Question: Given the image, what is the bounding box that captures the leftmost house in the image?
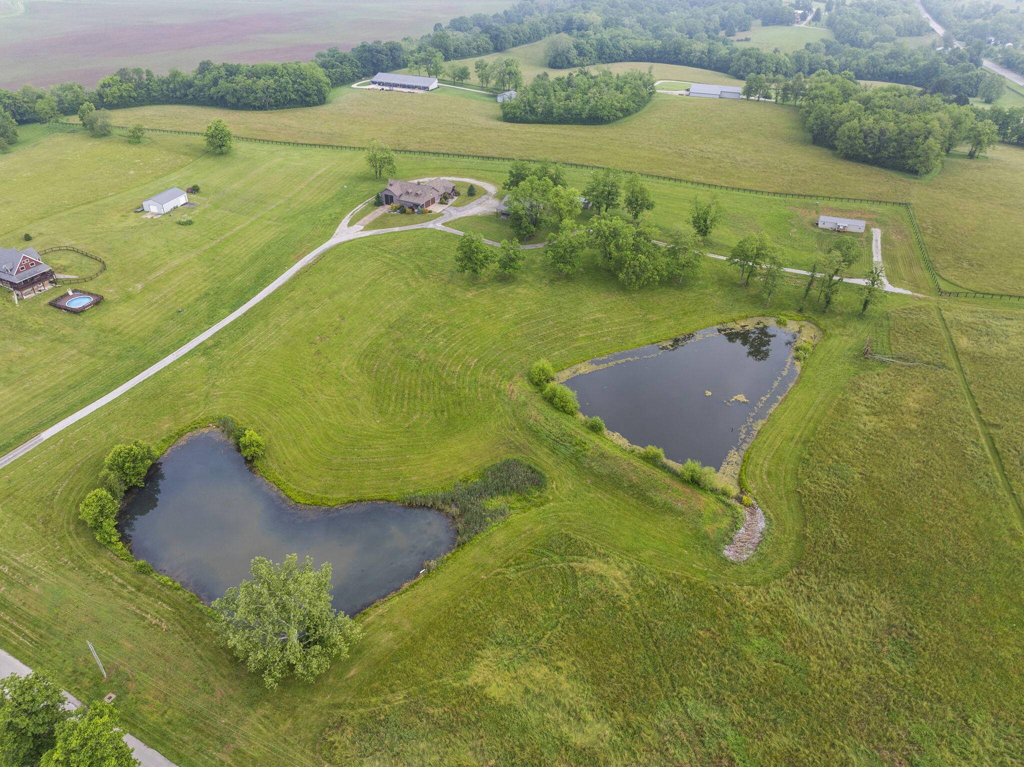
[0,246,61,303]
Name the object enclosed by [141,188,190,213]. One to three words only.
building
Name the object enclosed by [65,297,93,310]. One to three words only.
swimming pool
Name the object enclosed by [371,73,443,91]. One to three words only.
barn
